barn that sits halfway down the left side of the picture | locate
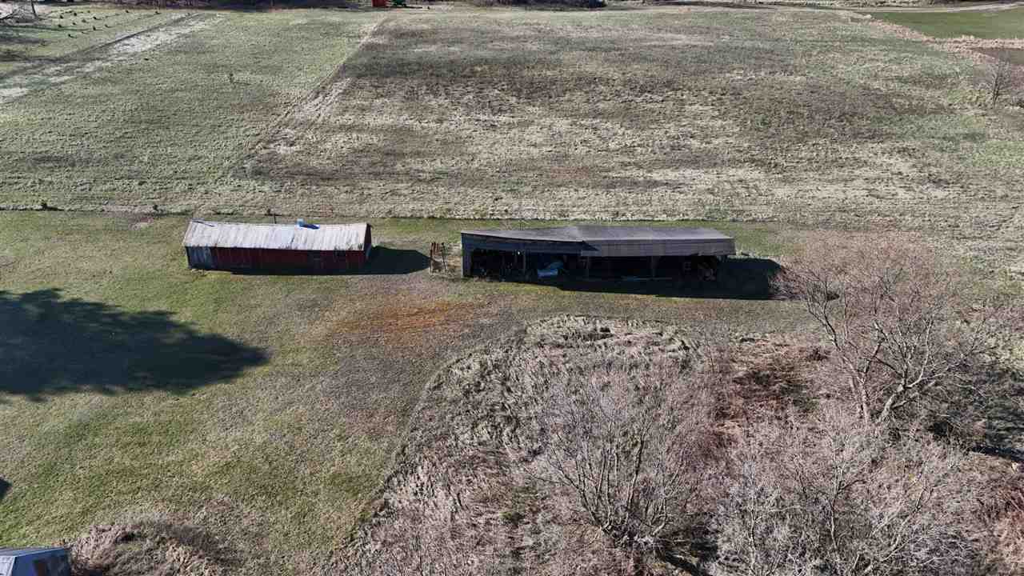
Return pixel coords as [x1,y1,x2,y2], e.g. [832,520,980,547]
[178,204,378,271]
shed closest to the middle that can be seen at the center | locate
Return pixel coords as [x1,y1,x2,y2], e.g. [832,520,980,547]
[458,224,736,282]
